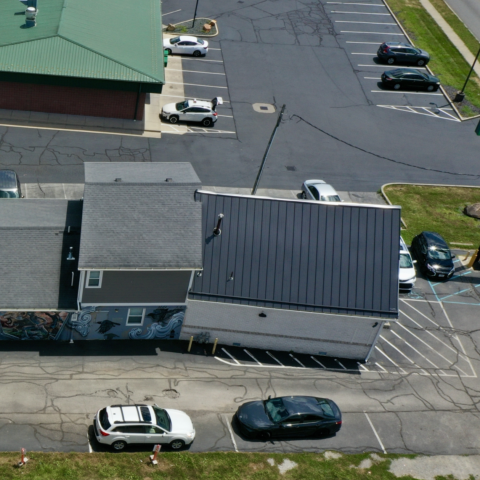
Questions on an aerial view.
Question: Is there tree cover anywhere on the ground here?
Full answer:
No, the picture contains no tree cover.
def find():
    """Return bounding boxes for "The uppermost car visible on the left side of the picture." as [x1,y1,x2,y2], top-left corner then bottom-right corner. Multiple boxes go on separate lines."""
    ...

[164,34,211,56]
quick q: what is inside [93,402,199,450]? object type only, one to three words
car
